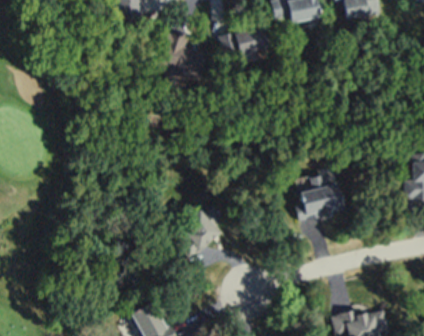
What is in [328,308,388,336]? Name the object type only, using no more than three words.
house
